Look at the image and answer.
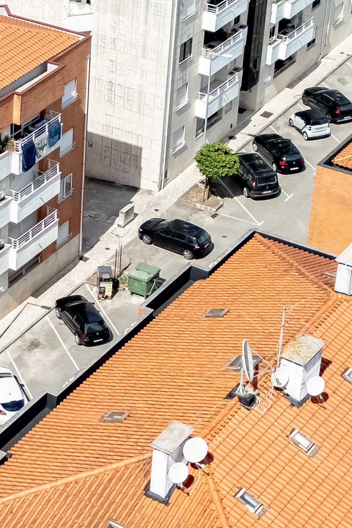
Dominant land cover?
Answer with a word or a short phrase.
buildings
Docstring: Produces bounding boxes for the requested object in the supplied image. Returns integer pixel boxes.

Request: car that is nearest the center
[136,213,217,260]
